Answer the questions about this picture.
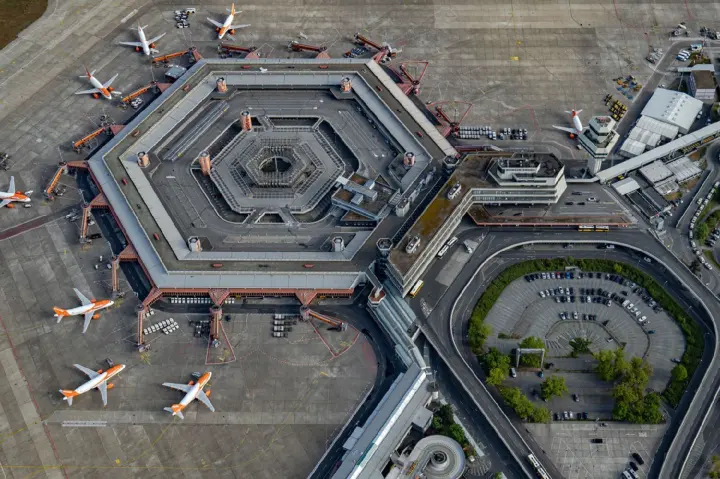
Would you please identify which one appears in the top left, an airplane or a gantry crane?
airplane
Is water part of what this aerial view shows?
No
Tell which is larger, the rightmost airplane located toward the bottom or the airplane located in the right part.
the rightmost airplane located toward the bottom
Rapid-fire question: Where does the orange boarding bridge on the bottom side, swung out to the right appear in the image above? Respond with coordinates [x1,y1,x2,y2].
[295,290,347,330]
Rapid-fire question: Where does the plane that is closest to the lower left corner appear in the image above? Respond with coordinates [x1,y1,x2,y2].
[59,364,125,407]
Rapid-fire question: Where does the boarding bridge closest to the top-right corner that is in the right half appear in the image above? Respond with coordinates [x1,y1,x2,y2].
[433,103,458,136]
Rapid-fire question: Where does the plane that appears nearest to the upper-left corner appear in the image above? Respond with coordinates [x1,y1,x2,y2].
[76,67,119,99]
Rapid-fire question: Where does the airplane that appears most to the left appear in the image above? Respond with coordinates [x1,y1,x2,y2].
[0,177,30,209]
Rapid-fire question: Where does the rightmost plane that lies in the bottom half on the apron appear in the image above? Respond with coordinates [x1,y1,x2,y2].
[164,372,214,419]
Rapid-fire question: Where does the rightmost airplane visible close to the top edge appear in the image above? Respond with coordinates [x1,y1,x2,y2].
[208,3,249,37]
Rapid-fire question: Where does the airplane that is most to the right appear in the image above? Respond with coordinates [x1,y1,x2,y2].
[553,104,584,139]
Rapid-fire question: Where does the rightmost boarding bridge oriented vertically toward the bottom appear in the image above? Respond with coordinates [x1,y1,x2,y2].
[207,290,230,345]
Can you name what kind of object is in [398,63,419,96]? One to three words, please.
jet bridge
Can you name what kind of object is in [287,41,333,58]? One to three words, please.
jet bridge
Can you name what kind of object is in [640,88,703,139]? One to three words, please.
hangar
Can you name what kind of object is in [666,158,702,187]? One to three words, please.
shed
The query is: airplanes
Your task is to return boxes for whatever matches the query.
[553,104,584,139]
[59,364,125,407]
[0,177,30,209]
[53,288,113,333]
[164,372,214,419]
[76,67,119,99]
[121,20,165,53]
[208,3,249,37]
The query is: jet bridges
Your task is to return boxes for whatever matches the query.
[79,191,110,243]
[118,79,173,106]
[398,63,419,96]
[352,32,389,65]
[149,46,204,65]
[69,121,125,151]
[433,103,458,136]
[110,240,138,297]
[218,41,263,58]
[44,159,91,196]
[295,290,347,330]
[135,283,167,352]
[207,290,230,345]
[287,41,333,58]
